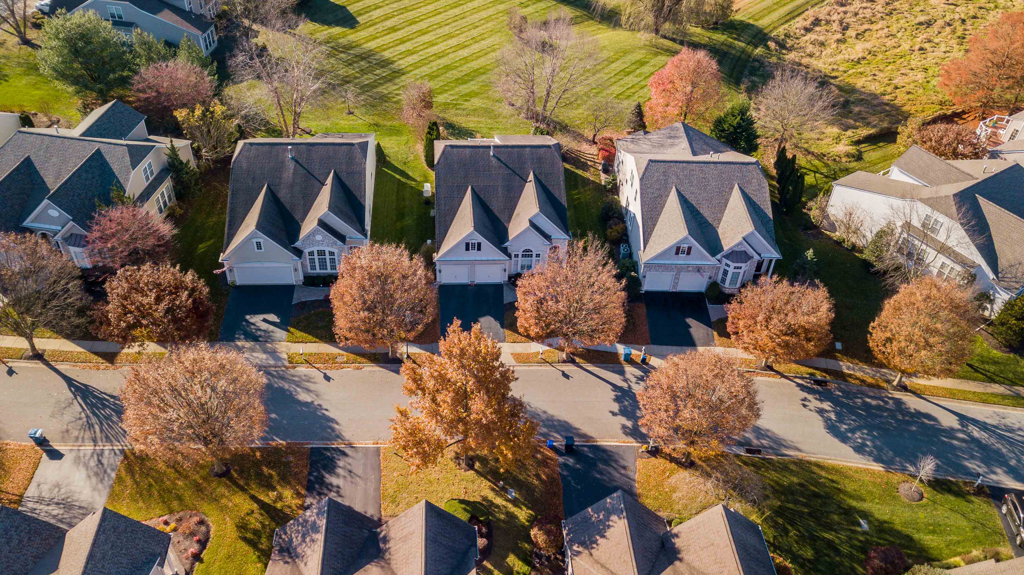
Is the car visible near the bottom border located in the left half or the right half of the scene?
right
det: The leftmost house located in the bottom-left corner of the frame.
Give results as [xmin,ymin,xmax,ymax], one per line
[0,502,174,575]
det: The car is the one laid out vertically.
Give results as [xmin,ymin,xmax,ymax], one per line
[1001,492,1024,549]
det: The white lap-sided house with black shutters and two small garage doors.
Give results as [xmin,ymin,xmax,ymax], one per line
[432,137,572,284]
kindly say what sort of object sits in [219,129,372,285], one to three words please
house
